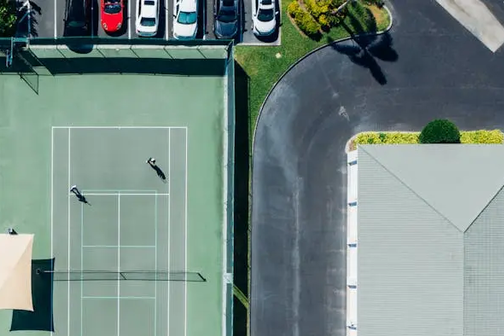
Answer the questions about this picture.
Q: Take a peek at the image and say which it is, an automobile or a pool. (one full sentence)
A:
Visible in the photo is an automobile.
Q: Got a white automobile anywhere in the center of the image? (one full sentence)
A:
No, looking in the center of the image, there is no white automobile.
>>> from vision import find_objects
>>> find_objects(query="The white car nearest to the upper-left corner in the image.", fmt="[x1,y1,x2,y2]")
[135,0,159,38]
